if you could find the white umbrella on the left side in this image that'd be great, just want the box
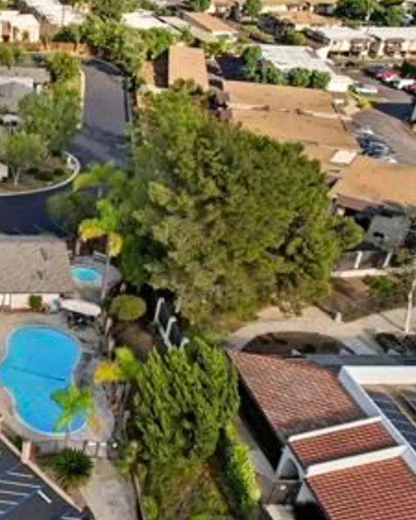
[58,303,107,332]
